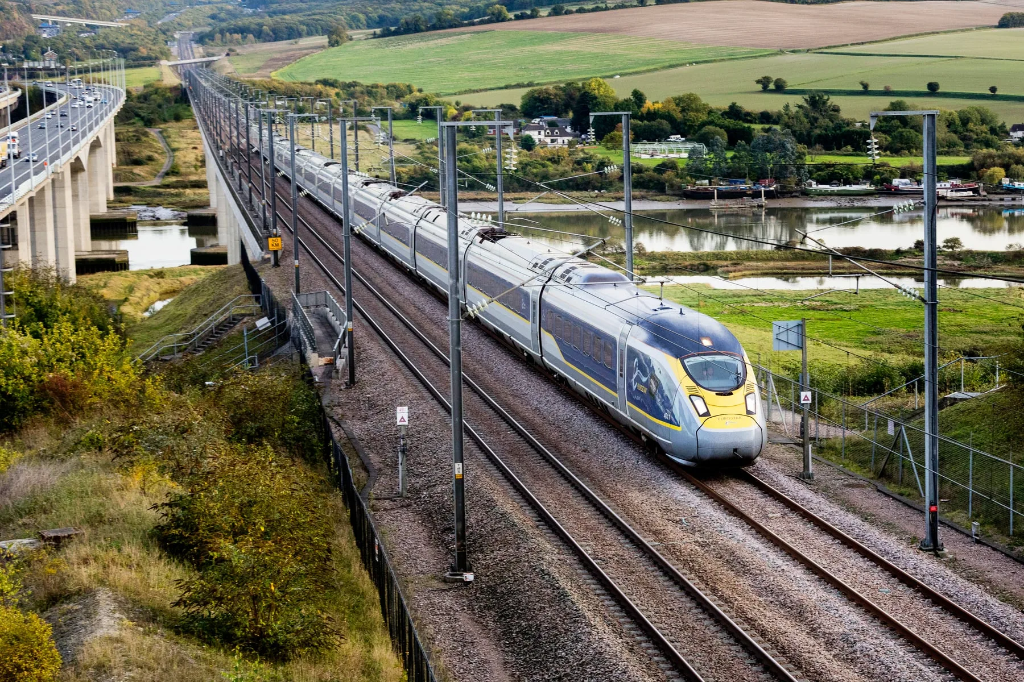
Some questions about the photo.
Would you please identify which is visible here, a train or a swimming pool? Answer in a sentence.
The image shows a train.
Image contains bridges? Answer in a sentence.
Yes, I can see a bridge in this picture.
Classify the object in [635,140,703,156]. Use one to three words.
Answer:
greenhouse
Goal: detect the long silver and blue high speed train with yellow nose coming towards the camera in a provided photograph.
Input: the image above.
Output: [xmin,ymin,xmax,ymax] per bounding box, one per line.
[251,118,766,477]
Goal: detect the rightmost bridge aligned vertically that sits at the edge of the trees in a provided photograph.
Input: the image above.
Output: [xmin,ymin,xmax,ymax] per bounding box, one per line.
[188,84,283,263]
